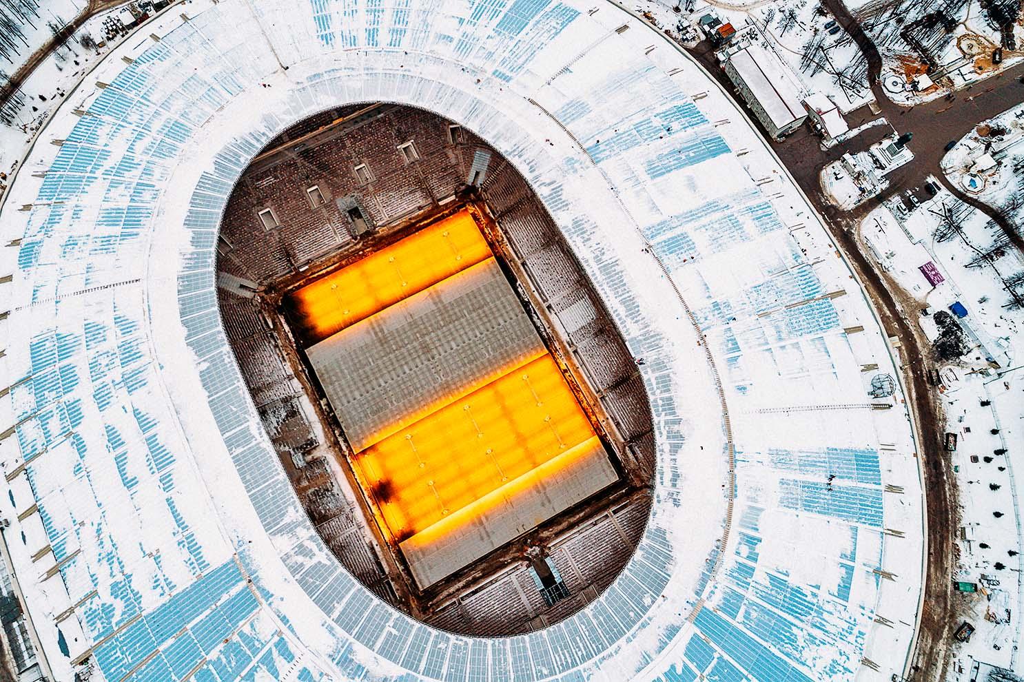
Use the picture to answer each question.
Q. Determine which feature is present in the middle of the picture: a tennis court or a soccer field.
soccer field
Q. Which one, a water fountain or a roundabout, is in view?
water fountain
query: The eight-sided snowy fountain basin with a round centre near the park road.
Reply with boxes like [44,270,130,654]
[880,69,911,97]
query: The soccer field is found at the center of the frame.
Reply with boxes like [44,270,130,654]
[285,210,620,590]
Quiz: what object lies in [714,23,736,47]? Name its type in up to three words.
house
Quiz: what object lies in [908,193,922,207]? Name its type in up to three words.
car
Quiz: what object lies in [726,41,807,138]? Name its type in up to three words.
building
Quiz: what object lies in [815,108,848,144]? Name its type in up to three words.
building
